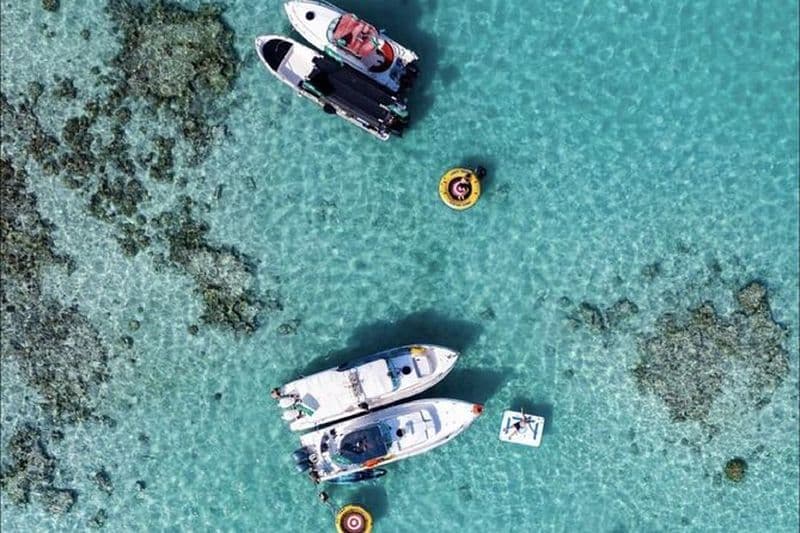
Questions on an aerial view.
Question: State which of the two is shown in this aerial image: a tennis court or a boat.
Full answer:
It is a boat that can be seen here.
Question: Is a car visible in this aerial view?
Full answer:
No, the picture doesn't show any car.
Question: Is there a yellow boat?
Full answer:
No, the frame has no yellow boat in it.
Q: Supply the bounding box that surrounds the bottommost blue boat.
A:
[329,467,384,484]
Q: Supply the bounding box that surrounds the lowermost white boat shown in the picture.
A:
[291,400,483,482]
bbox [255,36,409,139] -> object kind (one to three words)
boat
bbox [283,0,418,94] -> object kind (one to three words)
boat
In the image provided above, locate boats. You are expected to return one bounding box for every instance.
[329,467,384,484]
[291,400,483,482]
[280,348,460,431]
[283,0,418,94]
[255,36,409,139]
